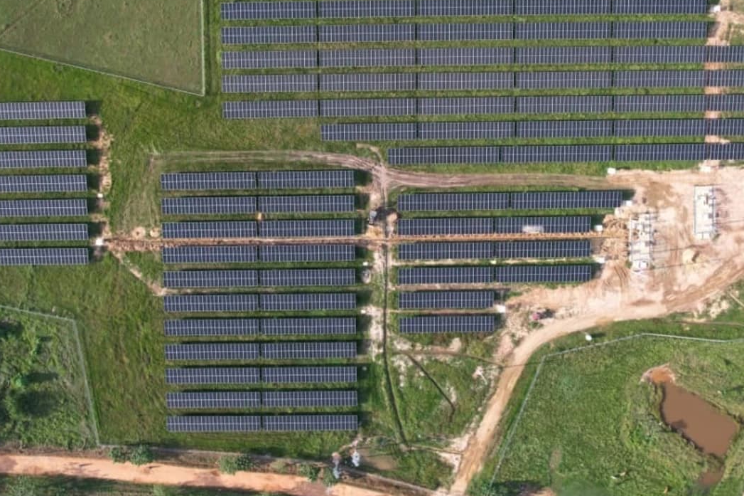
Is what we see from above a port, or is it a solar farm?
solar farm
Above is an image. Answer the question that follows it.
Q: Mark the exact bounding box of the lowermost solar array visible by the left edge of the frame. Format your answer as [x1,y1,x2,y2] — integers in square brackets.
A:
[0,248,89,265]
